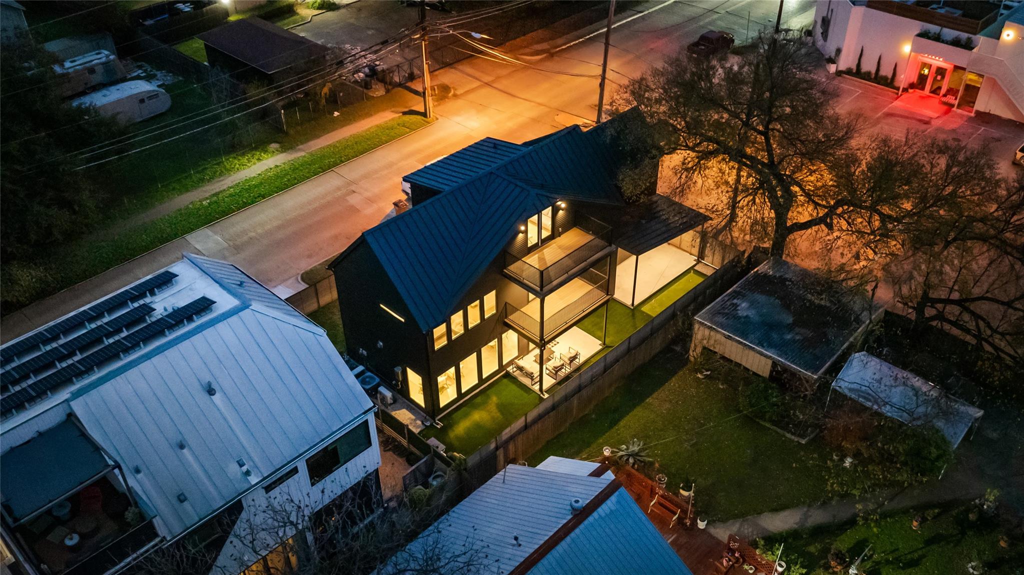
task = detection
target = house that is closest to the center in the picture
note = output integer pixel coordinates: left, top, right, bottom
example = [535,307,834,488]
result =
[323,104,713,430]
